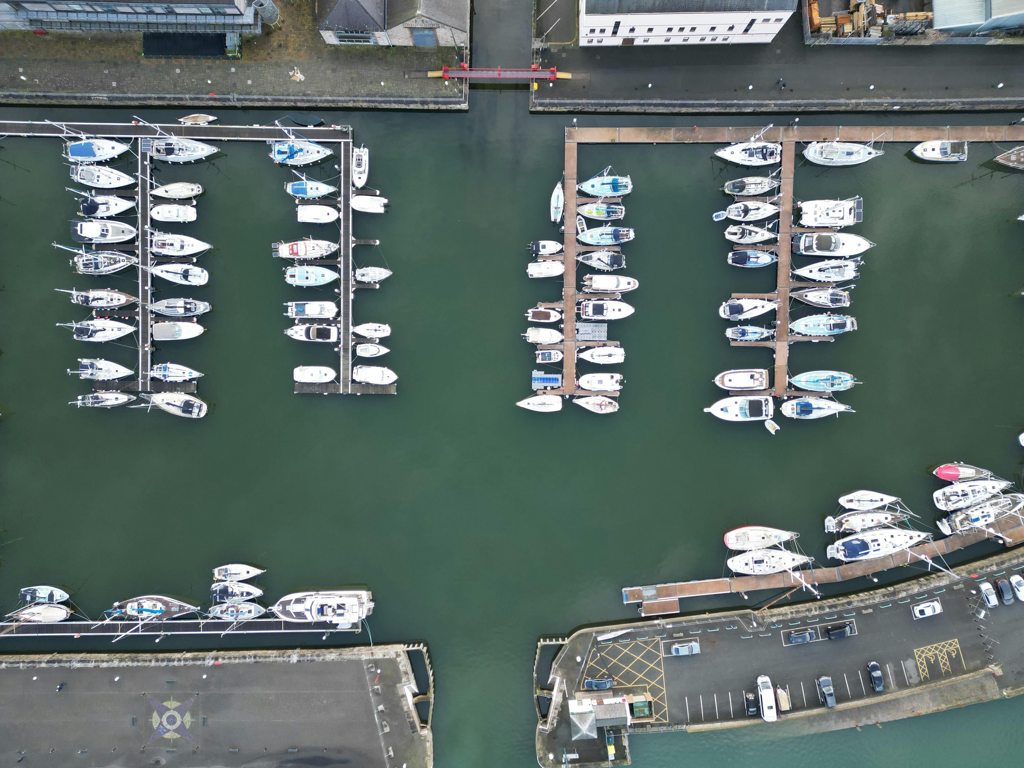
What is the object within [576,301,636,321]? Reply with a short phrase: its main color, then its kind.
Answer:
white boat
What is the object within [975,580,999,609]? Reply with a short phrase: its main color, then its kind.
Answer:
white car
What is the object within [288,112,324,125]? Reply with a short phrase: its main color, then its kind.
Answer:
blue boat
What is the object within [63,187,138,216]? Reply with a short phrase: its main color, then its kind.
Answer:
white boat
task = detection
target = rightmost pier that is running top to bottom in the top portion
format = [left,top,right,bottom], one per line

[774,141,795,396]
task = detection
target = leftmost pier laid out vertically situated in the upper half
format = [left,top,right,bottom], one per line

[139,138,152,391]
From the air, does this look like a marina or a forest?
marina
